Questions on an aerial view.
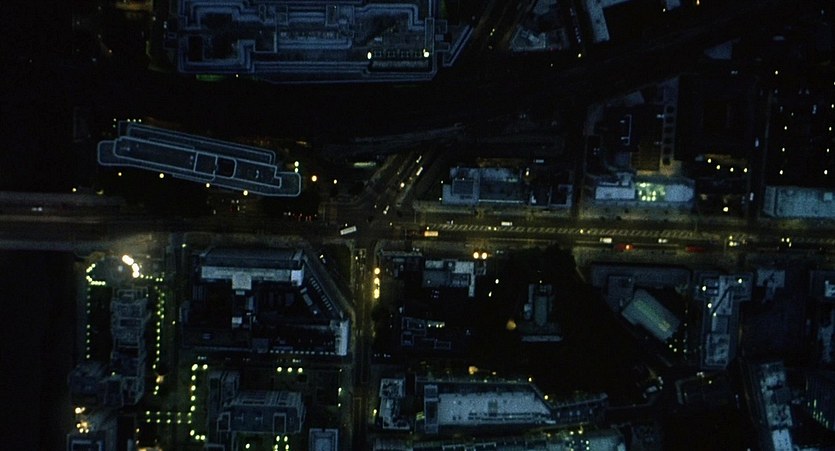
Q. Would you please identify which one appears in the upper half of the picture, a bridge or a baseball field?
bridge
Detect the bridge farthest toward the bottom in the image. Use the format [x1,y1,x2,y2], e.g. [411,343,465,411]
[0,190,86,248]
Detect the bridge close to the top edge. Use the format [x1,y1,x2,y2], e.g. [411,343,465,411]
[0,0,835,126]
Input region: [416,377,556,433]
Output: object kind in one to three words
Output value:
building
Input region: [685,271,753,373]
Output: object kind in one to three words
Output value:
building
